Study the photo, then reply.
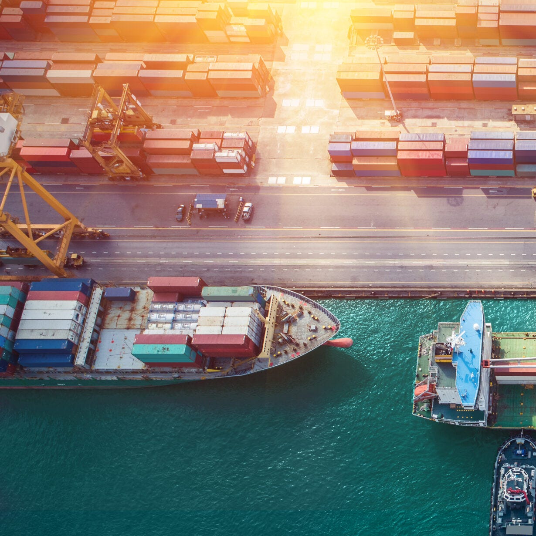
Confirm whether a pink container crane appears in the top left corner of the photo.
No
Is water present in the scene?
Yes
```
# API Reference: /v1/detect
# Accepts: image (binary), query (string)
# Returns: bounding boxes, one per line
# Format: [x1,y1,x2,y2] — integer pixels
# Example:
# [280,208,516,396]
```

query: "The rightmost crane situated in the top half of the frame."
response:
[82,77,165,183]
